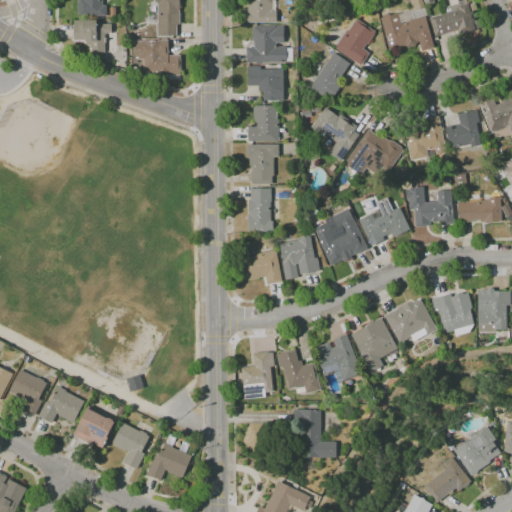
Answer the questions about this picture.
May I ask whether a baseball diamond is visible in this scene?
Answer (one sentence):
Yes, a baseball diamond can be made out from above.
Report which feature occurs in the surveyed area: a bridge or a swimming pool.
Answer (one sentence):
This aerial view contains a swimming pool.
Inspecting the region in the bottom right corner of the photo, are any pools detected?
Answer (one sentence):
Yes, a pool shows up in the bottom right corner of the photo.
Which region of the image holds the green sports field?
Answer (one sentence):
You can find the green sports field in the left area of the picture.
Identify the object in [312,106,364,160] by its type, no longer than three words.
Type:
house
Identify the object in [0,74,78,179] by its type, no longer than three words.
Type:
baseball field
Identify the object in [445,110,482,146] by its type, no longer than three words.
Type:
house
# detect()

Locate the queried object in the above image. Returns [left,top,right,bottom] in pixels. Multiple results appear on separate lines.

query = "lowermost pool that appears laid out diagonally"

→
[454,414,489,440]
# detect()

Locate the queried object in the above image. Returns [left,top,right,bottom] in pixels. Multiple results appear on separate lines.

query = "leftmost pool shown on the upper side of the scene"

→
[309,162,330,192]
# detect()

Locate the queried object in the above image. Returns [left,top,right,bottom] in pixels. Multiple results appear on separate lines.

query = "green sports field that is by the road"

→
[0,71,196,405]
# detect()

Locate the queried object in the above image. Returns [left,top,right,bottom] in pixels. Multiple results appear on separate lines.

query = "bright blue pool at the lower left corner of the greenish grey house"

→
[326,374,344,396]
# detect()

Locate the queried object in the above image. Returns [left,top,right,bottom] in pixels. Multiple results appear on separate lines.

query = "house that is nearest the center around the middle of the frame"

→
[248,250,282,284]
